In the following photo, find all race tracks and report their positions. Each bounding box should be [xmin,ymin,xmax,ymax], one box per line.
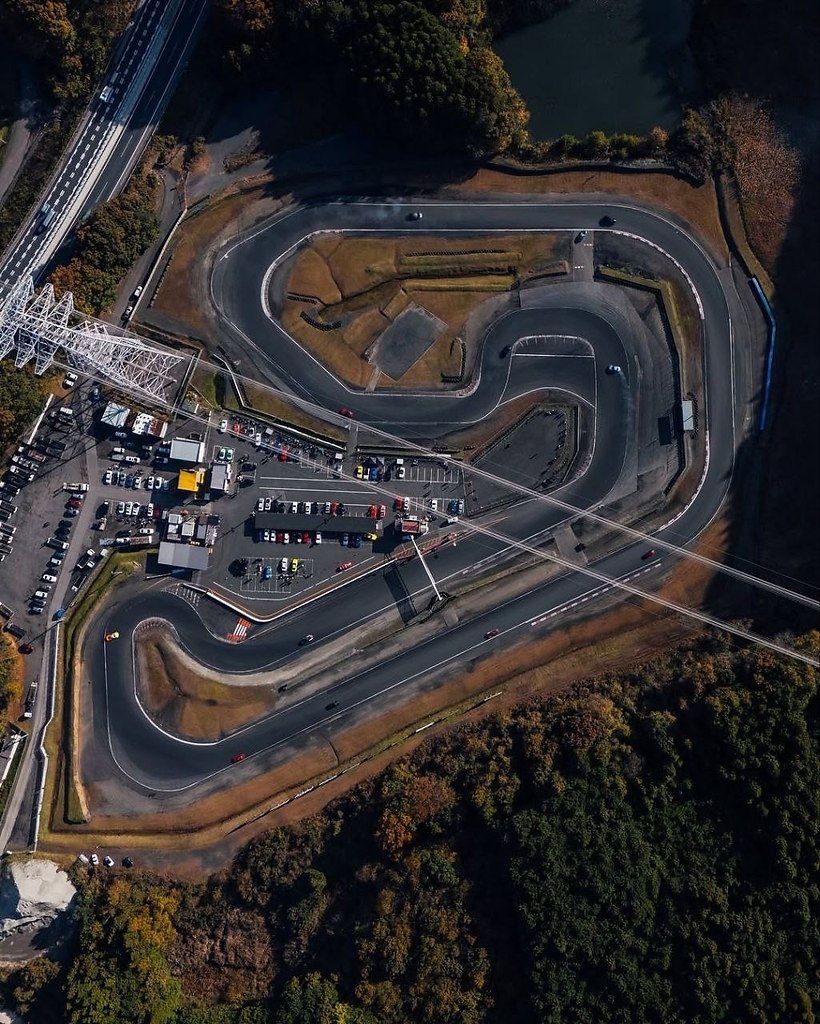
[86,203,735,791]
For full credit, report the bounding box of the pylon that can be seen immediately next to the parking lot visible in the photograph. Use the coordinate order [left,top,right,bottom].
[0,266,187,409]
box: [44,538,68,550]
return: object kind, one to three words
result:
vehicle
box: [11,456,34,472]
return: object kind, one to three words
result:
vehicle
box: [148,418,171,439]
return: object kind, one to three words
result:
house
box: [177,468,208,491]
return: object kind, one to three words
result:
building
